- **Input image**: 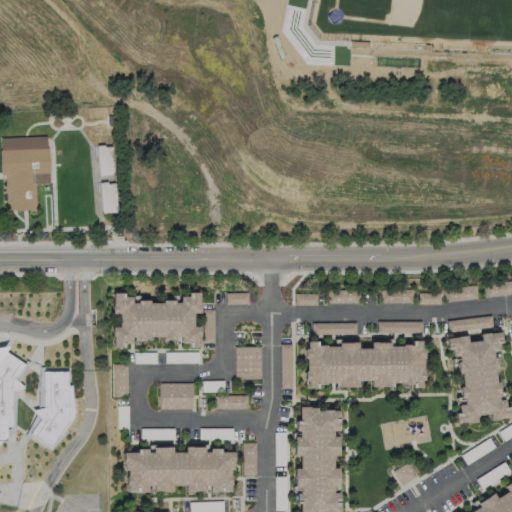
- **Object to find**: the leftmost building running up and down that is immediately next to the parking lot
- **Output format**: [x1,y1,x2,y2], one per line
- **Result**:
[297,408,344,512]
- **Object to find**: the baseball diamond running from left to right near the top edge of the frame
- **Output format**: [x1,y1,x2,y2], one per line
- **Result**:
[310,0,512,44]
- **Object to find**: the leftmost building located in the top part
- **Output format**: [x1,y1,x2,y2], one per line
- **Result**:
[2,137,50,210]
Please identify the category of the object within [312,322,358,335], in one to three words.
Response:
building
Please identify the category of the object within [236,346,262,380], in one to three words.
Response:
building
